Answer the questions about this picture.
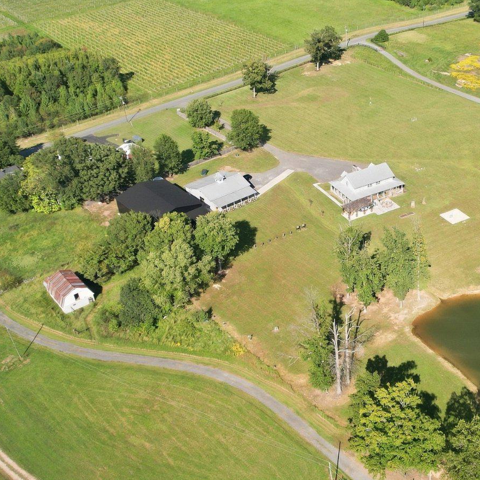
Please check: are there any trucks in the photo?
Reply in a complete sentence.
No, the scene contains no truck.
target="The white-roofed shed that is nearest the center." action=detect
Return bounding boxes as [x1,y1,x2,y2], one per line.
[186,168,260,210]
